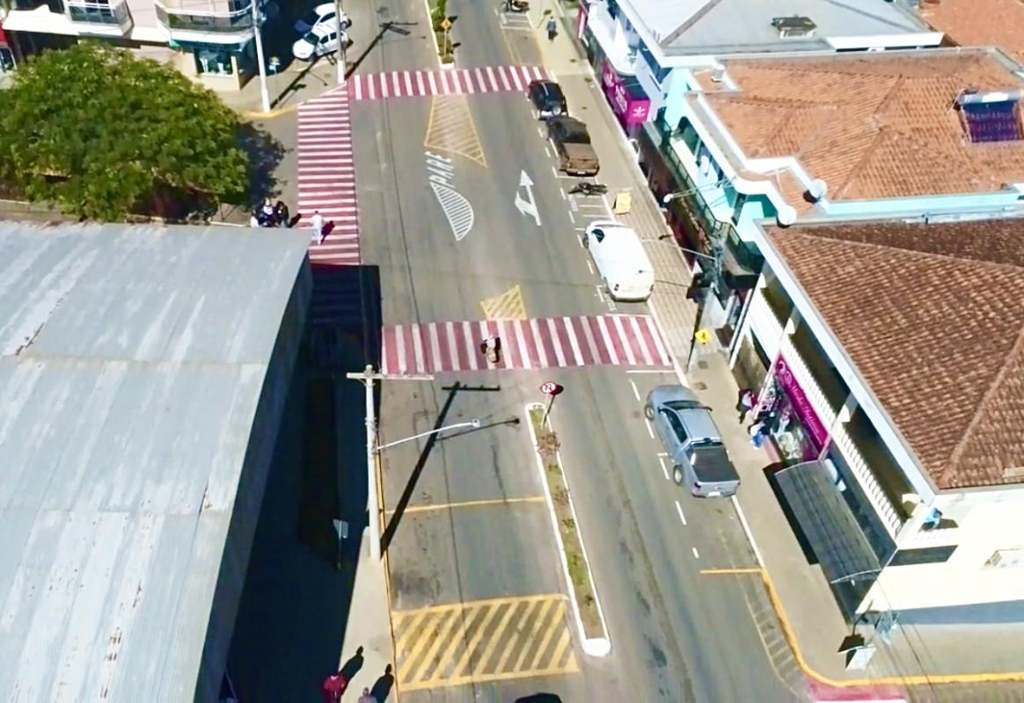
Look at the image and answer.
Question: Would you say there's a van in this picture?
Yes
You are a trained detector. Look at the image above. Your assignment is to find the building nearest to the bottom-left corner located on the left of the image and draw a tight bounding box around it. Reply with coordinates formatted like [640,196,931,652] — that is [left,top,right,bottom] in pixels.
[0,225,315,703]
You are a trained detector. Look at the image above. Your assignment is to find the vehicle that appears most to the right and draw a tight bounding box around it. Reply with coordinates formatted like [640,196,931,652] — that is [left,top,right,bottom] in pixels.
[644,373,745,501]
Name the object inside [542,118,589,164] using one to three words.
truck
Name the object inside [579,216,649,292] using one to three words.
van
